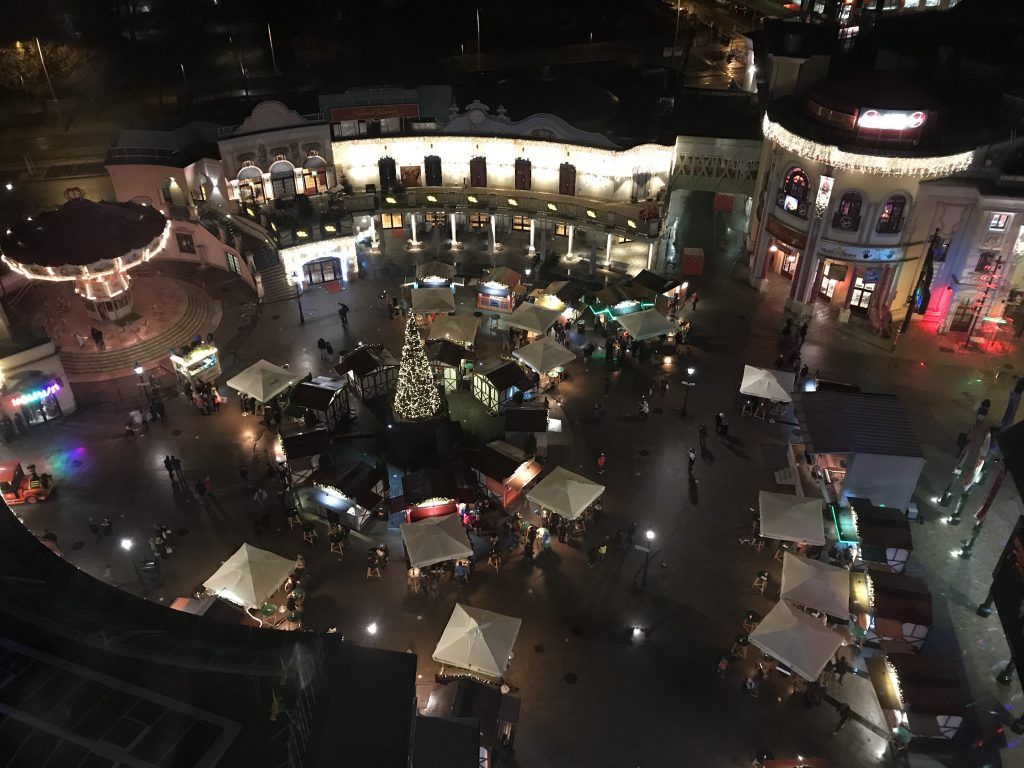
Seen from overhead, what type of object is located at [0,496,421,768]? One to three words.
building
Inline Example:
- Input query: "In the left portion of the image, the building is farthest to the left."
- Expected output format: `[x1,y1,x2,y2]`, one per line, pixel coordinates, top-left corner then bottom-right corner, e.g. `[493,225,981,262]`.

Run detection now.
[0,314,75,442]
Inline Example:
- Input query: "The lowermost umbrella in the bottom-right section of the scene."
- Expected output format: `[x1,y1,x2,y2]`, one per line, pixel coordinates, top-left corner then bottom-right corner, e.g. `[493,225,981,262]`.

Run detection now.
[748,600,845,683]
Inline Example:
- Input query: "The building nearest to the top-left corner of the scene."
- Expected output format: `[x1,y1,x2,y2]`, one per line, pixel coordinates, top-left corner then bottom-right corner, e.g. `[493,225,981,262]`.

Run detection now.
[100,114,236,217]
